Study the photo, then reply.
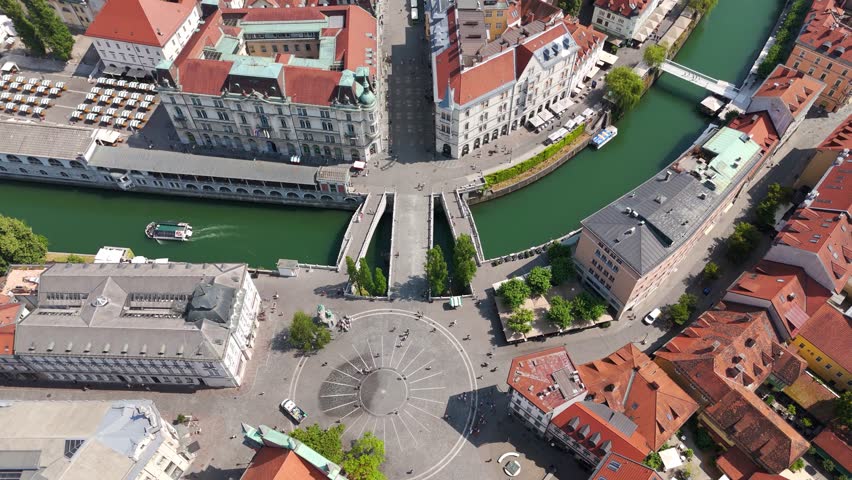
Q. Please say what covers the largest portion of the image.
buildings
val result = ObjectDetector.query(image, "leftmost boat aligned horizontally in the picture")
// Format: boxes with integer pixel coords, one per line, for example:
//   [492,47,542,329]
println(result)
[143,223,195,241]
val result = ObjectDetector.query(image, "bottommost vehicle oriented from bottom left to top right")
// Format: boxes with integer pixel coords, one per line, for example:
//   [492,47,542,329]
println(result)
[643,305,662,324]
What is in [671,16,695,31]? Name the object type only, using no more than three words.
umbrella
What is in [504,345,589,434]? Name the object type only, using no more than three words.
house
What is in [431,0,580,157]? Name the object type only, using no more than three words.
building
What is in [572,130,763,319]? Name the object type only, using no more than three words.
building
